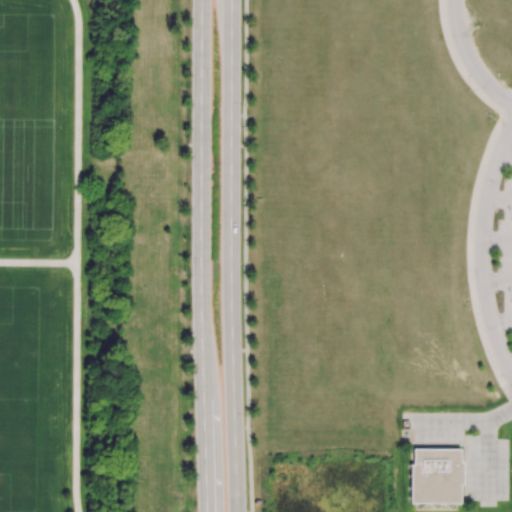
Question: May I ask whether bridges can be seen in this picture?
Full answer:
No, the photo shows no bridge.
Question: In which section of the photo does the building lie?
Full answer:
The building appears toward the bottom right of the photo.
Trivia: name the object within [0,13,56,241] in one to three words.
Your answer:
soccer field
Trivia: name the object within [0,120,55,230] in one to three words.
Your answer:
sports field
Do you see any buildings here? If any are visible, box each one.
[409,449,466,506]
